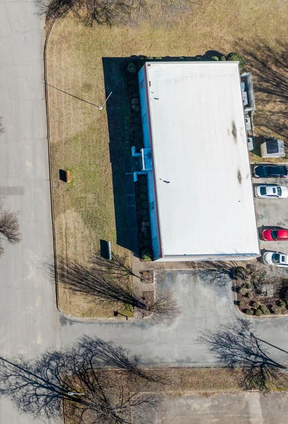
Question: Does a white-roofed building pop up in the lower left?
No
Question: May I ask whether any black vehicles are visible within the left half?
No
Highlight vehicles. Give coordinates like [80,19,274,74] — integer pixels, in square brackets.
[262,249,288,267]
[252,162,288,179]
[260,226,288,242]
[254,183,288,199]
